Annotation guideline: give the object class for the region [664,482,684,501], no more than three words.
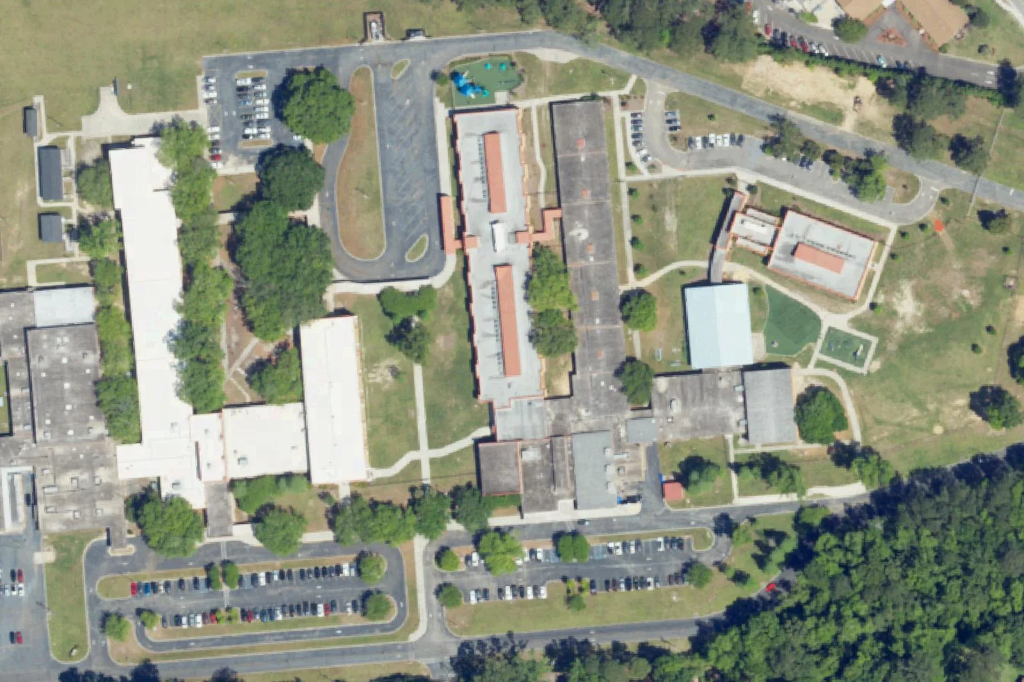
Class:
shed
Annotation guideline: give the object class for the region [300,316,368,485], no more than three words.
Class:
building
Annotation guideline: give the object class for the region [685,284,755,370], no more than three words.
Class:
building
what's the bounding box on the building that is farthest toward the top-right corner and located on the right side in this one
[904,0,969,47]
